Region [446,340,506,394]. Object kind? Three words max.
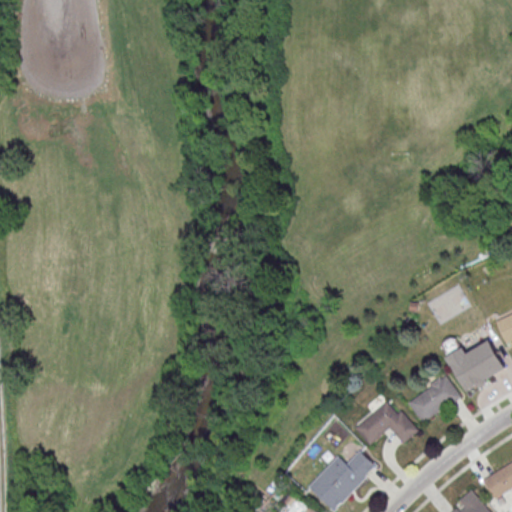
house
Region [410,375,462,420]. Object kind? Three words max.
house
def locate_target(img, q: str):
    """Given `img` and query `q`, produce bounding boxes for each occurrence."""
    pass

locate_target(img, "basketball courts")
[428,284,472,325]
